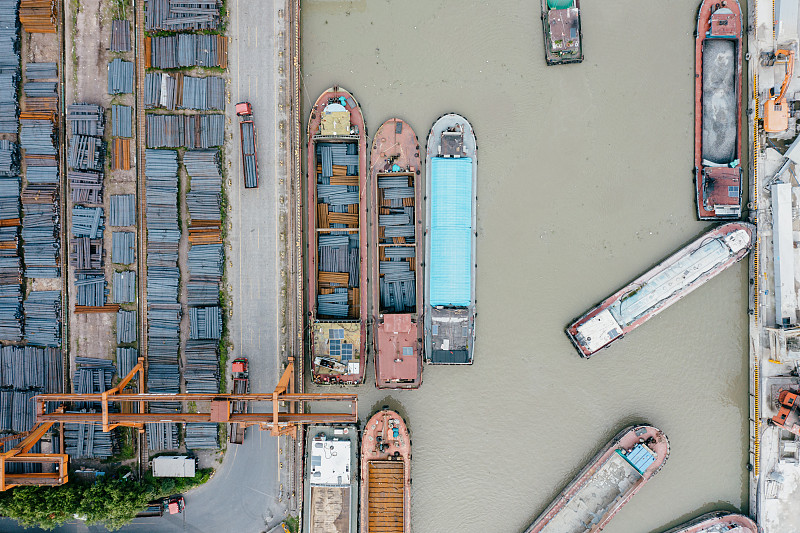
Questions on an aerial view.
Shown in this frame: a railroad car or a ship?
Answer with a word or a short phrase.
ship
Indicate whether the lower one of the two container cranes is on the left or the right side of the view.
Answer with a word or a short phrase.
left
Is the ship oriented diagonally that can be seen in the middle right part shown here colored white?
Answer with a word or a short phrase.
Yes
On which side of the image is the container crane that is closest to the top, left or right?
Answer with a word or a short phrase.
left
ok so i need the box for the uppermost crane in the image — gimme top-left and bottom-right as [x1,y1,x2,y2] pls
[36,355,358,442]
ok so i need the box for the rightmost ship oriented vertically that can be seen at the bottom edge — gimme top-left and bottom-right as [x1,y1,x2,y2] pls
[359,403,414,533]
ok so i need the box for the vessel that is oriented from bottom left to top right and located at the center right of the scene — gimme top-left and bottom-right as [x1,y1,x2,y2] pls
[562,220,758,360]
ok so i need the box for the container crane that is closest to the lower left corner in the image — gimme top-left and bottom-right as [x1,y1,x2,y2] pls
[0,404,70,492]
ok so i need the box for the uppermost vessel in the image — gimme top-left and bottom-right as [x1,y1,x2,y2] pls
[541,0,587,69]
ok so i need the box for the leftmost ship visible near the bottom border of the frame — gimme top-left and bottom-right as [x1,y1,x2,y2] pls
[301,424,361,533]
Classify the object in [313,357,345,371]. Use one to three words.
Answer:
boat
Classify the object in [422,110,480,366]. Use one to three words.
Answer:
ship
